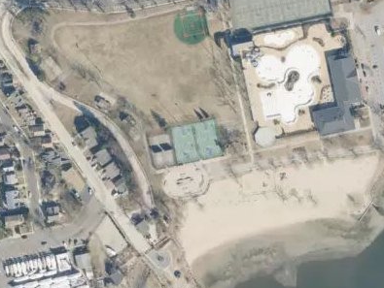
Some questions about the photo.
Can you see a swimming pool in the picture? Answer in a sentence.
Yes, there is a swimming pool in the image.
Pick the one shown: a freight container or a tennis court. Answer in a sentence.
Looking from above, you can make out a tennis court.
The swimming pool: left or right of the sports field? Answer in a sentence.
Looking at the picture, you'll find the swimming pool to the right of the sports field.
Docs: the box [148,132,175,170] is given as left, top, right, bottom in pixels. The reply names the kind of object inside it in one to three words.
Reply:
sports court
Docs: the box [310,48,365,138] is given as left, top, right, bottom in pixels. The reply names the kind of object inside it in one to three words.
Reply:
building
